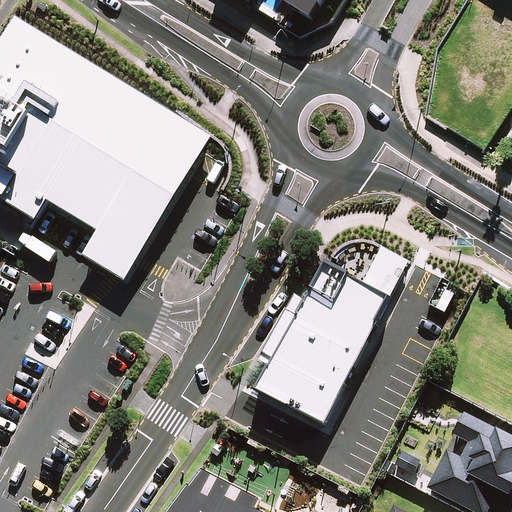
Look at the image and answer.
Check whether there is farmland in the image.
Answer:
No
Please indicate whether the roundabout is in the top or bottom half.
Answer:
top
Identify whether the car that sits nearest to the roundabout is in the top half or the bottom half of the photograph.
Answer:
top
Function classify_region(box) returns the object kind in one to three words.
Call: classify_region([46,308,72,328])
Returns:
vehicle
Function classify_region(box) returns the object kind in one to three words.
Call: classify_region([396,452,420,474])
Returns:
shed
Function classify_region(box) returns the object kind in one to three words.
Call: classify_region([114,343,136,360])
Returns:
car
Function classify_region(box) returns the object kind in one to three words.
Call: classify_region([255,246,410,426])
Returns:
building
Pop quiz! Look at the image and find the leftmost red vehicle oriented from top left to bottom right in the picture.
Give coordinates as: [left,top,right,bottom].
[6,393,27,410]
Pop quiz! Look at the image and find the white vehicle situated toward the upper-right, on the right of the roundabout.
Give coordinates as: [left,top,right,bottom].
[366,104,388,125]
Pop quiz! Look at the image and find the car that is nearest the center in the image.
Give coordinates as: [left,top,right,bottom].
[272,252,288,274]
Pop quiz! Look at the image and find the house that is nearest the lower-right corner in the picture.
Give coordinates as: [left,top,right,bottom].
[428,412,512,512]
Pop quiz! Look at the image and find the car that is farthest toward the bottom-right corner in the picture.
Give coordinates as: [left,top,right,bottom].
[418,317,442,336]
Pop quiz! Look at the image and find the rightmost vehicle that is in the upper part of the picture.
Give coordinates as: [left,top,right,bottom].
[426,194,449,214]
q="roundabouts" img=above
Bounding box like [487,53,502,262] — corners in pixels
[298,94,364,160]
